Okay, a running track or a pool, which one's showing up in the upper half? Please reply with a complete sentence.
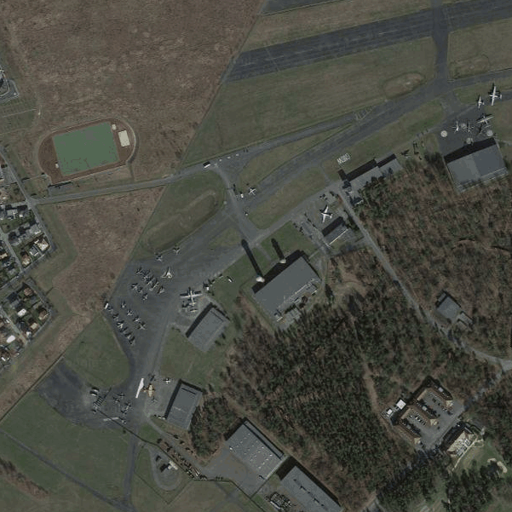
You can see a running track in the upper half.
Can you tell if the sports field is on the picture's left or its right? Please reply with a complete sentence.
You can find the sports field on the left side of the picture.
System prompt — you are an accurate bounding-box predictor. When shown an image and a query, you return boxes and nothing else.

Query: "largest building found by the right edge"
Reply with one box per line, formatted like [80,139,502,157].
[447,144,506,186]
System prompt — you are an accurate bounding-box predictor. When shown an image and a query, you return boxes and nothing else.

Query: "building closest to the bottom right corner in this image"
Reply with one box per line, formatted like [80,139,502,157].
[440,427,475,458]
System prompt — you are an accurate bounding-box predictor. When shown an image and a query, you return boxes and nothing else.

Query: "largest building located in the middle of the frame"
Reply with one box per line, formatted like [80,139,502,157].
[255,257,321,319]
